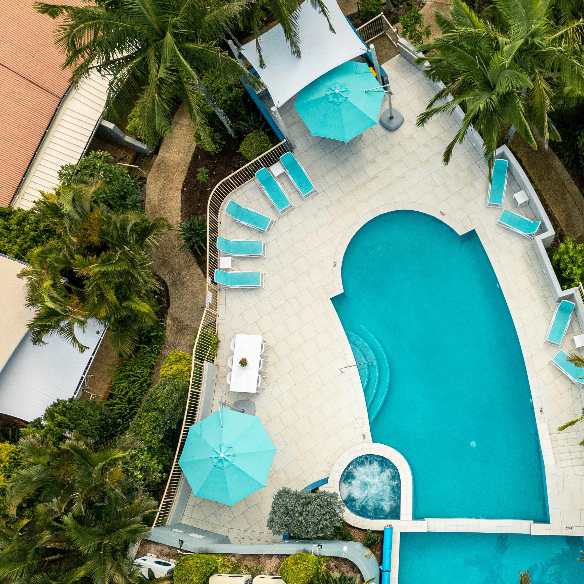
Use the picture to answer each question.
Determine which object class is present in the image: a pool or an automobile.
pool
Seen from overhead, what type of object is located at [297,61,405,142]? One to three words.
umbrella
